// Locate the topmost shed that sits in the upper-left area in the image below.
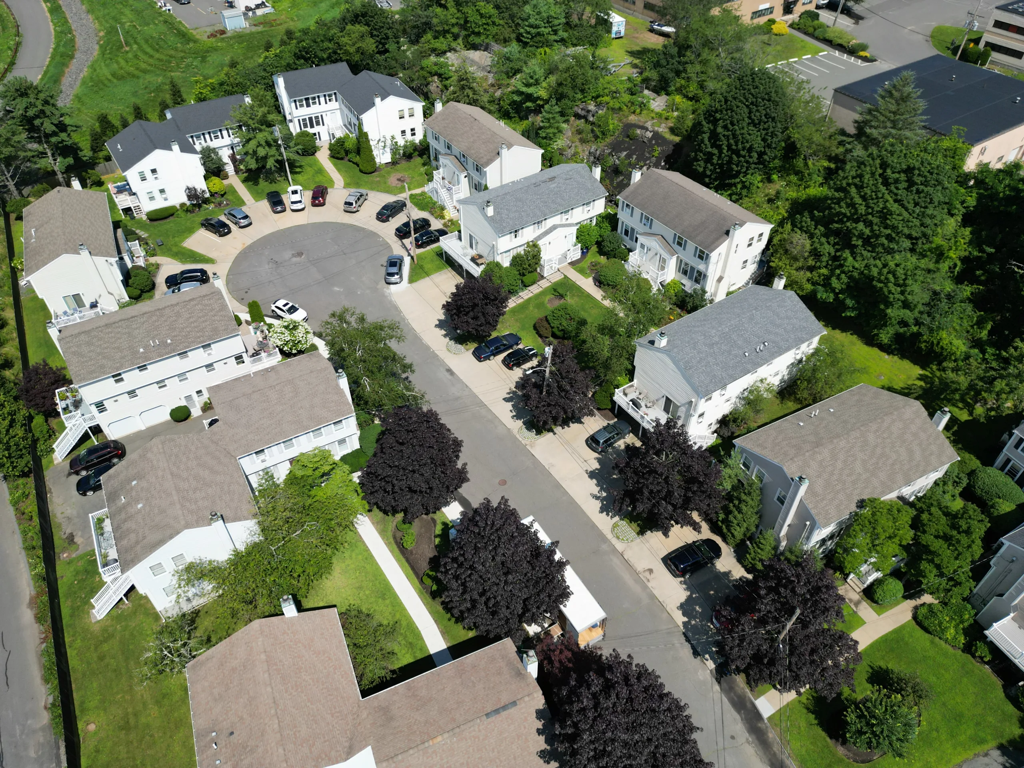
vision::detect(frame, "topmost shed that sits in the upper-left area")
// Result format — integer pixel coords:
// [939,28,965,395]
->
[224,11,246,31]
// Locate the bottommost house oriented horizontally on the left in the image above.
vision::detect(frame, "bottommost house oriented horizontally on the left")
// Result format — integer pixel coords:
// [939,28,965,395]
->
[184,593,568,768]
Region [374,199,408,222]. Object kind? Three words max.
car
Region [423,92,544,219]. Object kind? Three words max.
house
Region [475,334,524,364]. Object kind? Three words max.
car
